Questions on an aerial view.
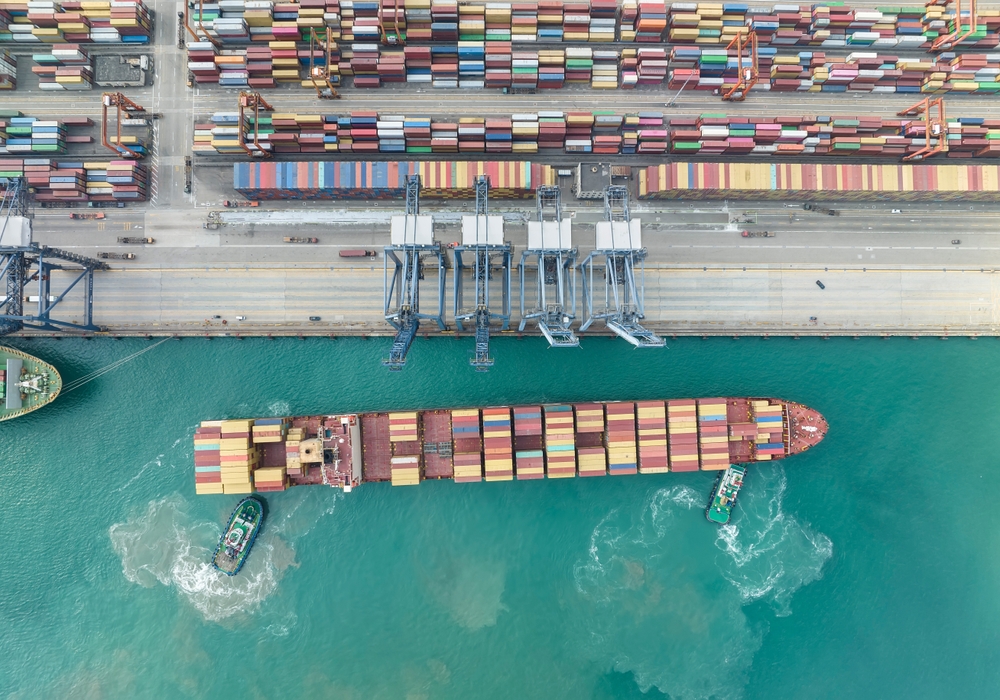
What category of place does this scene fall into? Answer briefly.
port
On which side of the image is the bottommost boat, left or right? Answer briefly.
left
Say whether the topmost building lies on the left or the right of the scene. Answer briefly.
left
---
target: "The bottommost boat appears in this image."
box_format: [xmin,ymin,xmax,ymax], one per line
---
[213,496,263,578]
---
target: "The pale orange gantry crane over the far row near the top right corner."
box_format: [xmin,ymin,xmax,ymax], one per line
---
[925,0,976,53]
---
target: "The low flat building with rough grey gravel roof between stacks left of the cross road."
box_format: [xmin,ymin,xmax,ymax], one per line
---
[95,55,148,89]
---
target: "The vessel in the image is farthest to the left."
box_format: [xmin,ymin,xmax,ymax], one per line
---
[0,345,85,421]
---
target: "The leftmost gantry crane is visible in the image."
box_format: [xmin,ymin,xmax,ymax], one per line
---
[0,172,120,334]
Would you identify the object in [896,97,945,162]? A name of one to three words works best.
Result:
container crane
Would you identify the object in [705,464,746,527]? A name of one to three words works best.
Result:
boat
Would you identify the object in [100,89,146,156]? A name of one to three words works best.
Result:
container crane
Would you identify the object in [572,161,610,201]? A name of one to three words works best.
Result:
building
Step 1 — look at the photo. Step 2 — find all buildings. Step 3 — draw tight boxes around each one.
[572,161,610,201]
[95,55,148,89]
